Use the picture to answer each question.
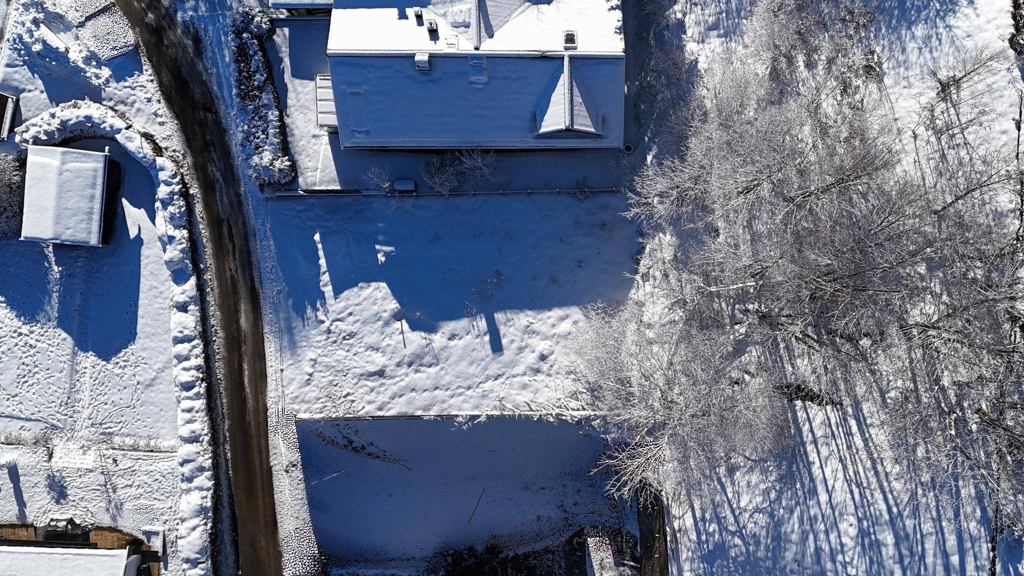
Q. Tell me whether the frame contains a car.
No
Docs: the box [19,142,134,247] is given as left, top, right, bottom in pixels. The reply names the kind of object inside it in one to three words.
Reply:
shed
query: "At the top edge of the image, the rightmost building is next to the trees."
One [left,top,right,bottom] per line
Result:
[317,0,627,152]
